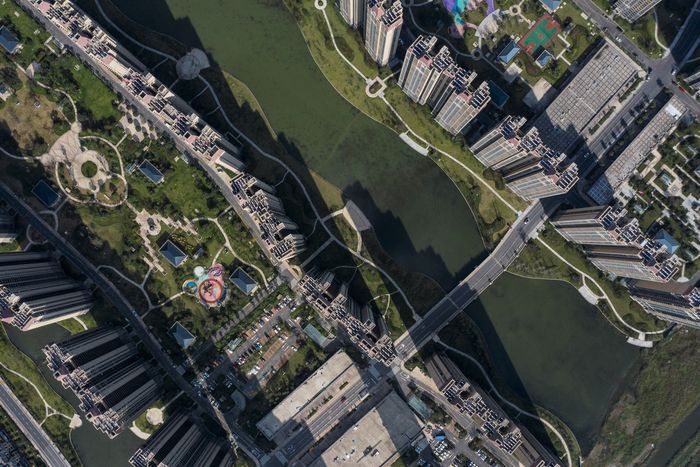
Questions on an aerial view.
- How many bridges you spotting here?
1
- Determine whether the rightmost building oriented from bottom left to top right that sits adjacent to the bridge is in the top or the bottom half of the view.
top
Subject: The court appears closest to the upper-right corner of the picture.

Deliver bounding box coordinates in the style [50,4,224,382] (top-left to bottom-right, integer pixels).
[520,13,561,55]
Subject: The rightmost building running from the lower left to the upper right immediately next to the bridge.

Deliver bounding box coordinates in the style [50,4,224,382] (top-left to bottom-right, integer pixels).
[584,95,689,206]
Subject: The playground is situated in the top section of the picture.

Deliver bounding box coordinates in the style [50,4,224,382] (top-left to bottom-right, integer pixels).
[442,0,494,39]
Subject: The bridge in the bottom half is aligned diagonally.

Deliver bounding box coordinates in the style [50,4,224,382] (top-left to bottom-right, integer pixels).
[398,200,554,362]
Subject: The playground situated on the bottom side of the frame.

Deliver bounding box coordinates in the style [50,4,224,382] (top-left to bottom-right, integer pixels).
[183,263,228,306]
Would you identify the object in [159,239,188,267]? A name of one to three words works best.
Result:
building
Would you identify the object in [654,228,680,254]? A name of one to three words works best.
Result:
building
